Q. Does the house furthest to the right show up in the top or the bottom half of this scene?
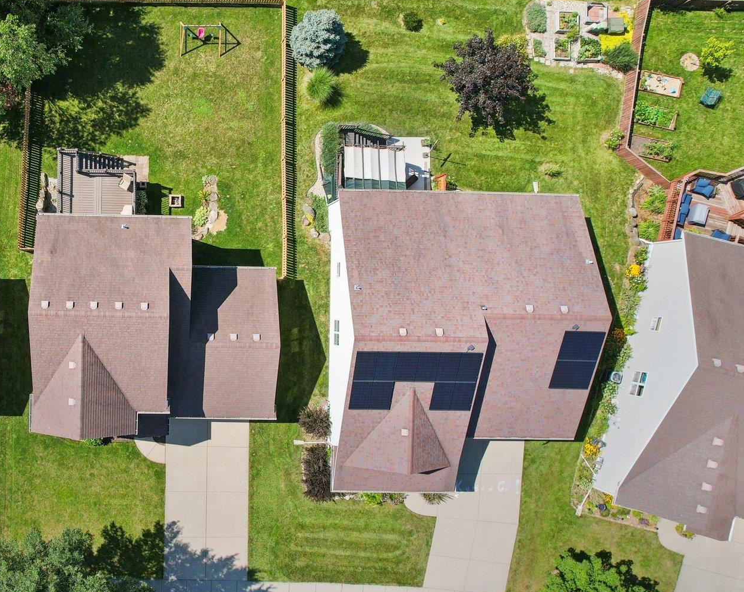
bottom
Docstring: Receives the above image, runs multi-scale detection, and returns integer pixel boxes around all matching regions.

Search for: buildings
[579,231,744,541]
[25,212,282,441]
[298,184,618,492]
